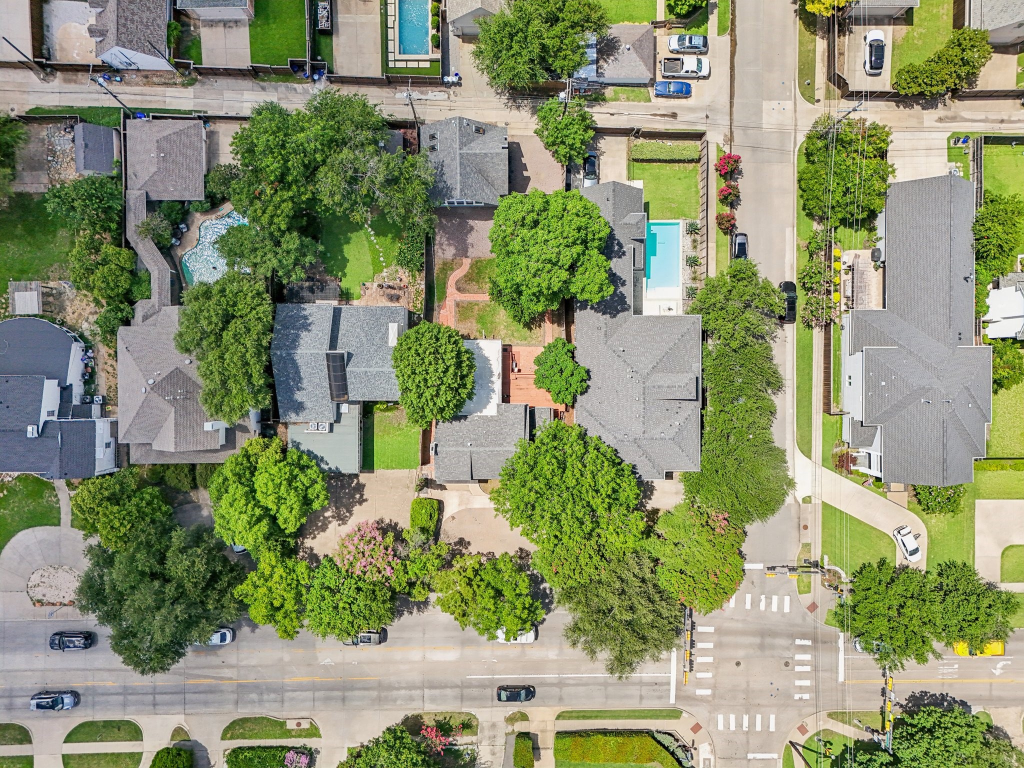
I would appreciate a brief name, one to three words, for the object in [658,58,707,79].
truck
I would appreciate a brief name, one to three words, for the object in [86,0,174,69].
house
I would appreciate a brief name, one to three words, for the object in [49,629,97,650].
car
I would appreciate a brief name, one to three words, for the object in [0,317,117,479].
house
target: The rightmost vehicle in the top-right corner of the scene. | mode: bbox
[862,35,884,76]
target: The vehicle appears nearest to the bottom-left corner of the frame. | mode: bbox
[30,689,81,711]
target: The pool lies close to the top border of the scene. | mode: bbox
[395,0,432,58]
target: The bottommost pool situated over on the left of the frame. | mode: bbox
[179,212,257,298]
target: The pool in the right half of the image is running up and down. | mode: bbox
[643,221,682,315]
